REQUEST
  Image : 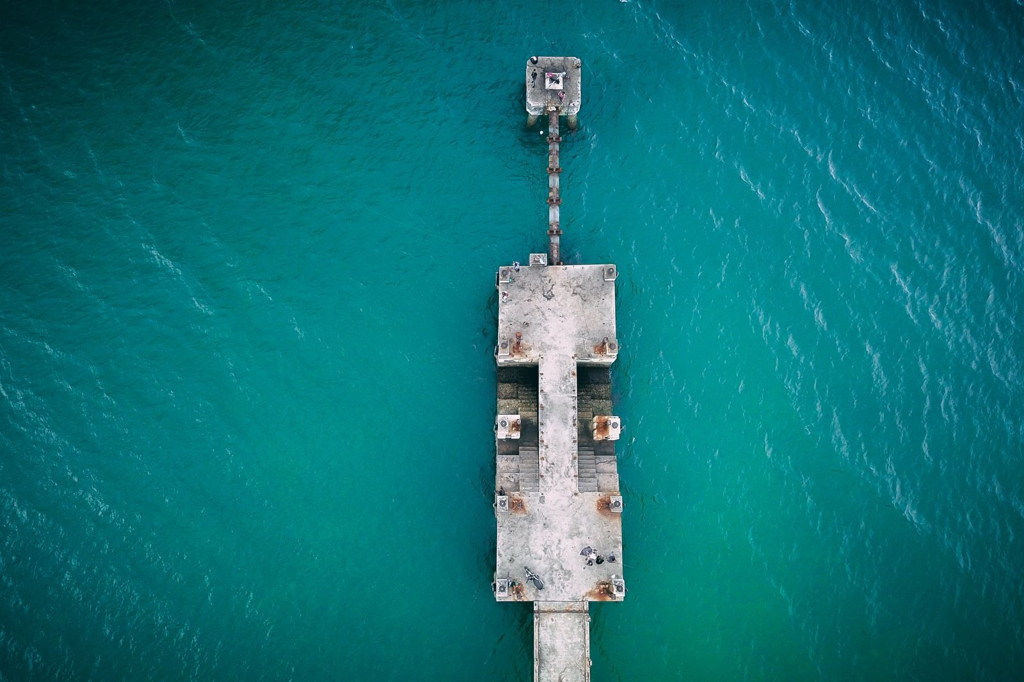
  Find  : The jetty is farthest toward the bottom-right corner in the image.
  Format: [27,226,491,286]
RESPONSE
[591,416,620,441]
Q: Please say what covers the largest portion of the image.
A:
water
